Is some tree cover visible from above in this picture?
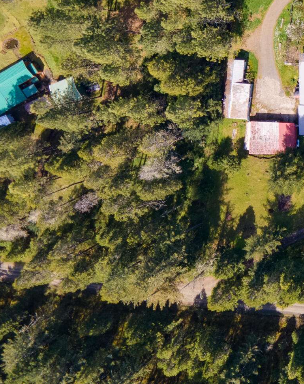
Yes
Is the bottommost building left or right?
right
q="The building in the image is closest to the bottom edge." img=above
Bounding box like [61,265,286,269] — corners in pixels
[245,121,298,155]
